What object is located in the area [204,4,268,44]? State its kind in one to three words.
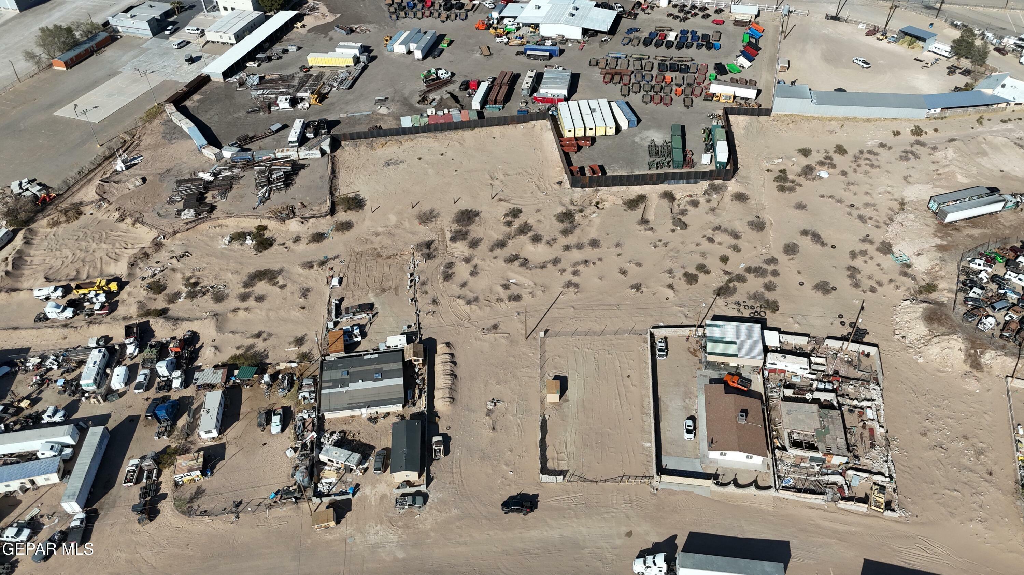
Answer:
building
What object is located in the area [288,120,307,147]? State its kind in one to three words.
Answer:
camper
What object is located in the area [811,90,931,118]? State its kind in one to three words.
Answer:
barn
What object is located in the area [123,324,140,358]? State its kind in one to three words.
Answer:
vehicle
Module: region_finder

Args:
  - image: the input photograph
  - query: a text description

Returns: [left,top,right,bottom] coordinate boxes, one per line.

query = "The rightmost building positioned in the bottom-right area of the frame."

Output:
[778,402,848,466]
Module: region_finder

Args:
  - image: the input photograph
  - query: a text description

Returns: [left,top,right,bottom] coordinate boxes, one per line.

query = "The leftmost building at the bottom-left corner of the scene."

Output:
[0,456,69,493]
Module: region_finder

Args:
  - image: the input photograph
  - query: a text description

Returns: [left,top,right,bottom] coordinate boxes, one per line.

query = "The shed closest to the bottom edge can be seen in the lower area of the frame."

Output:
[312,507,336,533]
